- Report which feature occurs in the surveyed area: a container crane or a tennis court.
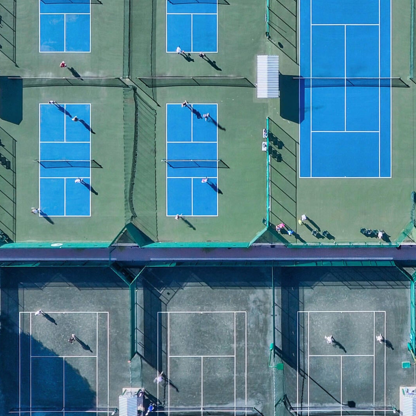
tennis court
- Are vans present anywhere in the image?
No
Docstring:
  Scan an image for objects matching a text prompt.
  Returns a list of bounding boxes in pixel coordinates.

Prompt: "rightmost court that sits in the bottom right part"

[298,311,386,416]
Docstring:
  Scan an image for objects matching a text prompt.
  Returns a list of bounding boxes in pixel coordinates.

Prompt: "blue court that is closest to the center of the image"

[167,103,218,217]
